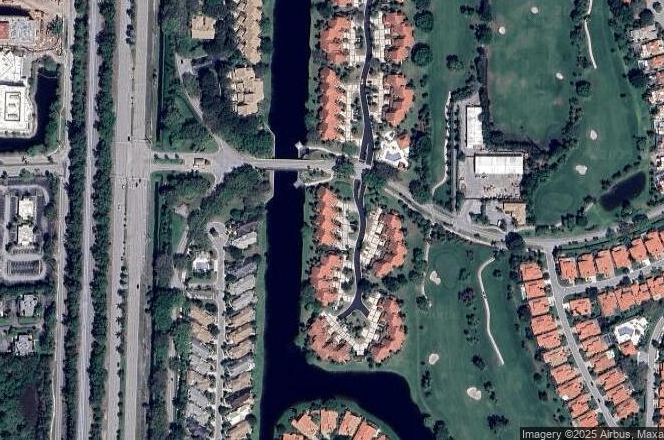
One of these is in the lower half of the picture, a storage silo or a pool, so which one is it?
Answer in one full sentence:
The one visible in the lower half of the picture is a pool.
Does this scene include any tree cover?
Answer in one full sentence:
Yes, the picture does contain tree cover.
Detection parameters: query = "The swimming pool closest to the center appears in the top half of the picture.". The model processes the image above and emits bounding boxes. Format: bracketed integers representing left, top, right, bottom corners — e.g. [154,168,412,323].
[379,132,409,169]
